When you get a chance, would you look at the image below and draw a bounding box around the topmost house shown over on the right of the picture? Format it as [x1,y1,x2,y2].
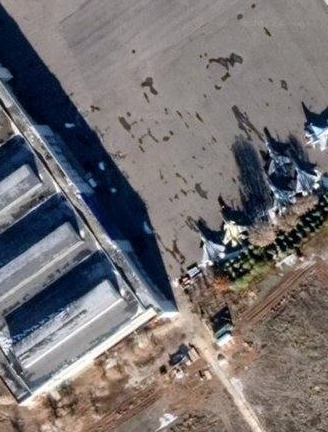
[212,324,236,346]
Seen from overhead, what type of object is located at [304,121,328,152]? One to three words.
airplane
